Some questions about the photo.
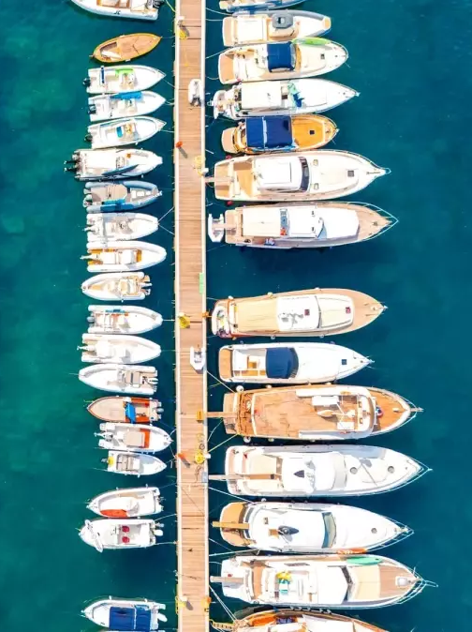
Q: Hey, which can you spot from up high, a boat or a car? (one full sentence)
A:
It is a boat that can be seen here.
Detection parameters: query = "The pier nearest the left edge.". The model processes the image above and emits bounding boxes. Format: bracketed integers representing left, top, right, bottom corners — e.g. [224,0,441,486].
[172,0,209,632]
